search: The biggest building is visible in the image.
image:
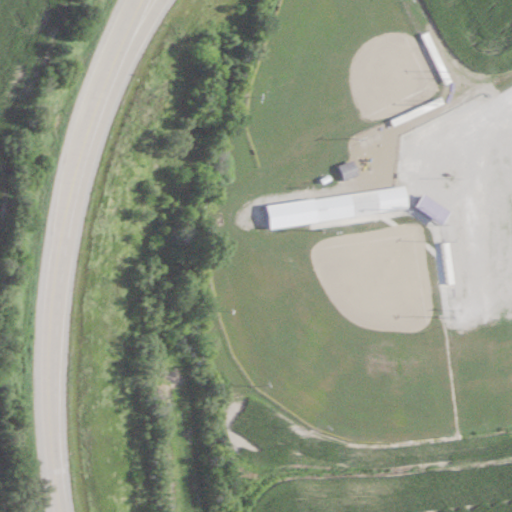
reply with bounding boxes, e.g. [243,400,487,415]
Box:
[267,186,411,231]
